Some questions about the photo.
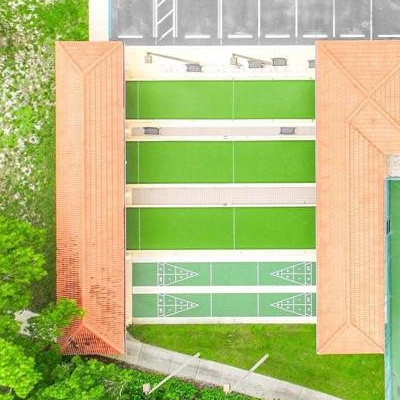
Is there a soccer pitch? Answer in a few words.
No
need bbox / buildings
[315,40,400,355]
[55,41,127,356]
